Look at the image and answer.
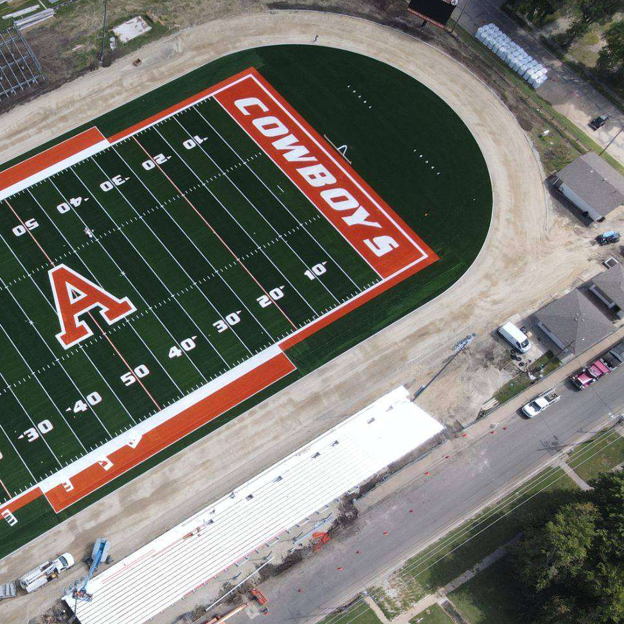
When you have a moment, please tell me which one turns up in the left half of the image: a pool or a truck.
truck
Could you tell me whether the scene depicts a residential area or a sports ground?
sports ground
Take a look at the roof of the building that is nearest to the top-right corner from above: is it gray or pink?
gray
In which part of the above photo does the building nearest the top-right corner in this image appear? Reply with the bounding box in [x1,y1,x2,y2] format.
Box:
[541,152,624,225]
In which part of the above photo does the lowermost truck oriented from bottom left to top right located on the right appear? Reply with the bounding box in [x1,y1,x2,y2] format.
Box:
[521,385,567,417]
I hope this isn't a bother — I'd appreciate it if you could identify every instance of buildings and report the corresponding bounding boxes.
[578,246,624,323]
[541,152,624,225]
[530,290,618,370]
